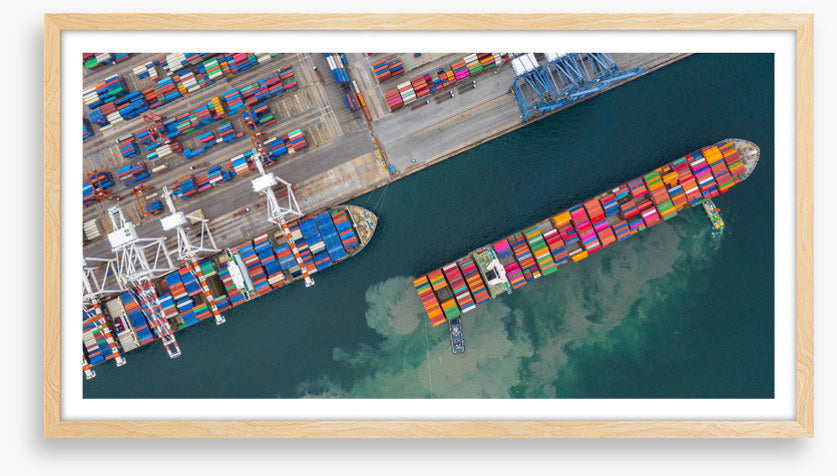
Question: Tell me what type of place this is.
port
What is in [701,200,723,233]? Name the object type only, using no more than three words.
boat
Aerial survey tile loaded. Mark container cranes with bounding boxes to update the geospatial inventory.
[87,169,122,200]
[157,186,228,321]
[143,112,177,147]
[132,186,166,218]
[83,251,133,364]
[251,134,280,168]
[239,104,270,140]
[535,53,611,103]
[100,205,178,360]
[504,53,574,123]
[566,53,649,89]
[248,148,314,285]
